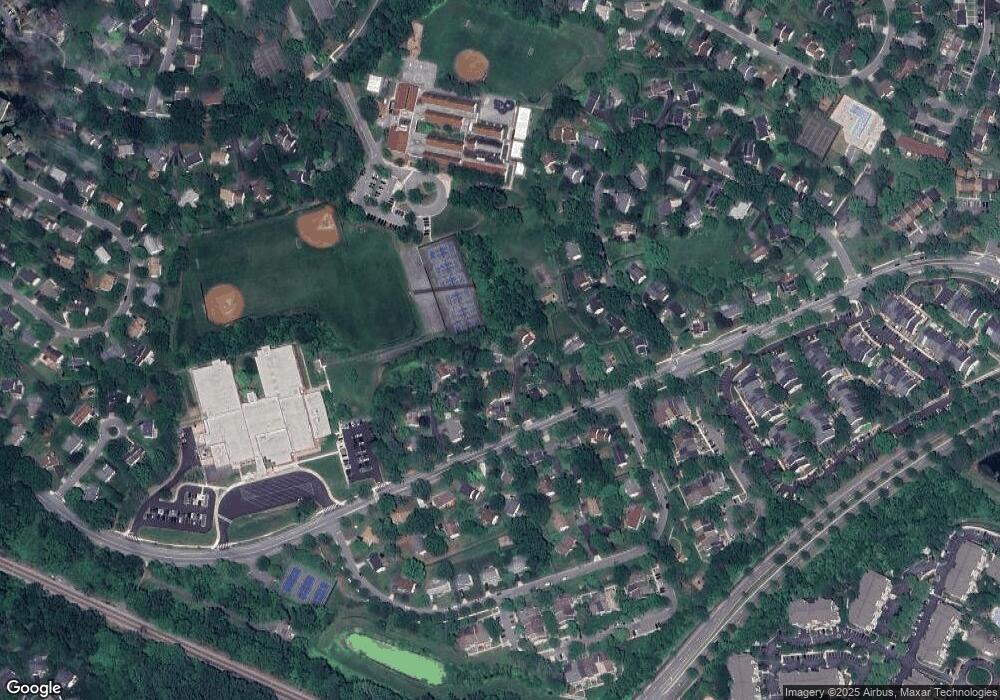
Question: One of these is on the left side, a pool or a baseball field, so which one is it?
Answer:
baseball field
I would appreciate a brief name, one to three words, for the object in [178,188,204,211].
house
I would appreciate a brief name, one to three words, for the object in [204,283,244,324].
baseball field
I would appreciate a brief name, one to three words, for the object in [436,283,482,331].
tennis court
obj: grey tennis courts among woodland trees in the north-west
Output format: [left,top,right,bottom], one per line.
[253,41,286,78]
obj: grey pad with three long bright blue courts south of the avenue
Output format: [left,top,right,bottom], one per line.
[280,563,339,606]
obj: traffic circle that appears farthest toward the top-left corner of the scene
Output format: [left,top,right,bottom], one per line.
[405,172,448,216]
